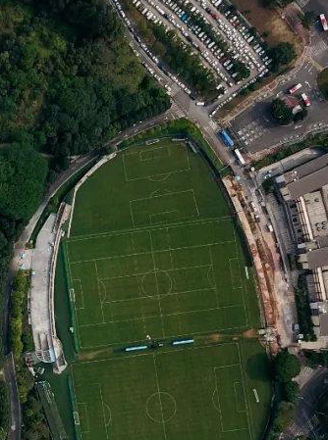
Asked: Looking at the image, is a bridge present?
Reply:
No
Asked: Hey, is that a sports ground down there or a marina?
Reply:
sports ground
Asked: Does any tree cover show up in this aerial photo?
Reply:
Yes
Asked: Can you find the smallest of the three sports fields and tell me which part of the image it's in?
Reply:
center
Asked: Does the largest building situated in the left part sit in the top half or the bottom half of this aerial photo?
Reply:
bottom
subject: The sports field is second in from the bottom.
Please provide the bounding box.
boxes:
[66,216,249,349]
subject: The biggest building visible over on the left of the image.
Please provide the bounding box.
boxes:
[25,203,72,374]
